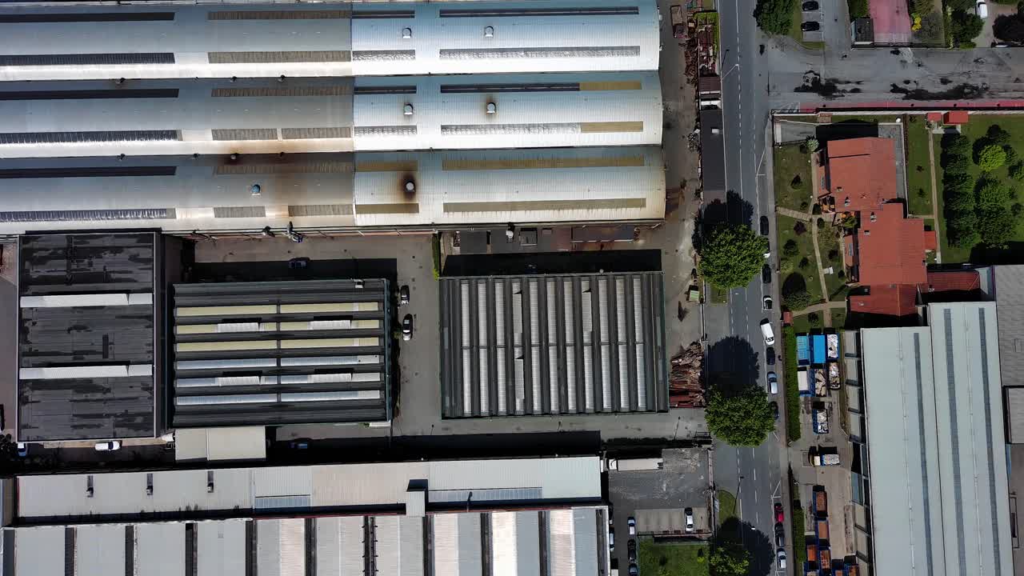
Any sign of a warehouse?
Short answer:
Yes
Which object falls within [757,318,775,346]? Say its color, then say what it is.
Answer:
white vehicle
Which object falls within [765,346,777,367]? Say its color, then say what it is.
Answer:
black vehicle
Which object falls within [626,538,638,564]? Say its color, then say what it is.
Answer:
black vehicle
